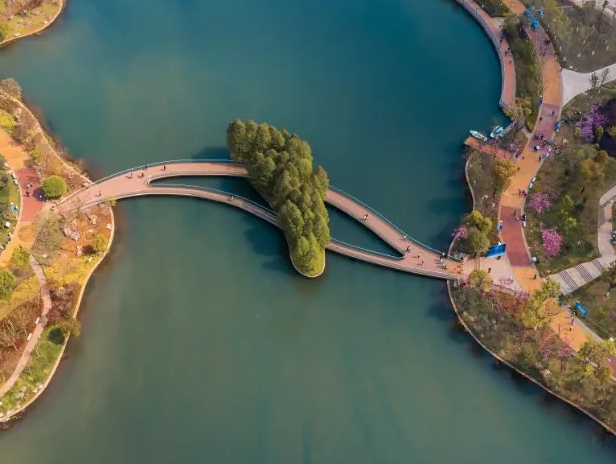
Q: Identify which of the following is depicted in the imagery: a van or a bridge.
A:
bridge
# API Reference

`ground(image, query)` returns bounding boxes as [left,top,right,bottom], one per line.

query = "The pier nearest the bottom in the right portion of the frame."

[465,134,518,160]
